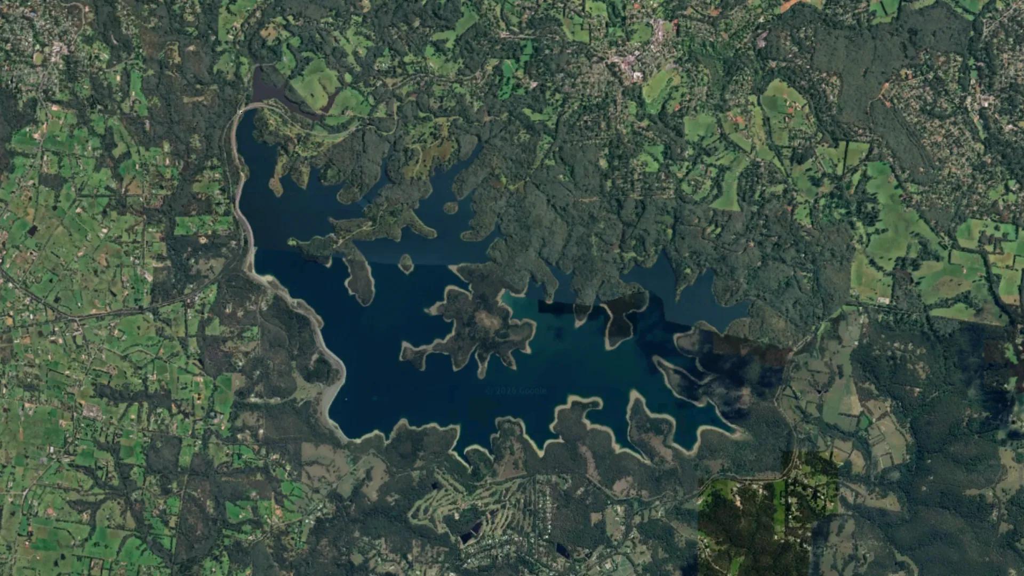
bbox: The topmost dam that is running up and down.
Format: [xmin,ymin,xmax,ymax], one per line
[232,104,255,266]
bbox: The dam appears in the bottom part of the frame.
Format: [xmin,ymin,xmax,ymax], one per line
[285,296,348,443]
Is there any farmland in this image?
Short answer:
Yes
